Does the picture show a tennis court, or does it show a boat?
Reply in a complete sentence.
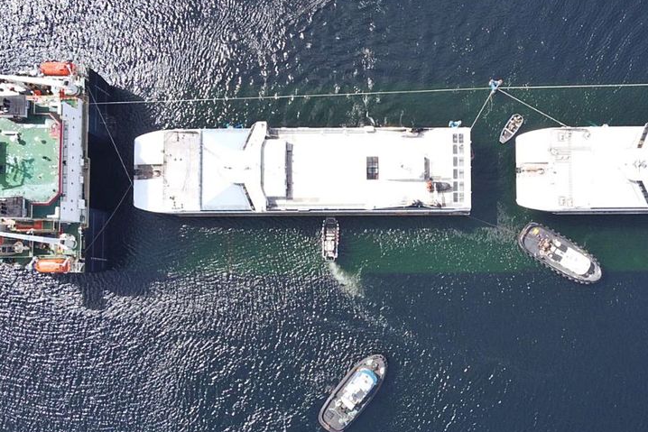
Of the two, only a boat appears.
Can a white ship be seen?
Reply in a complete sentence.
Yes, there is a white ship in the image.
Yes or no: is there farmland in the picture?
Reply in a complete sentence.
No, the picture contains no farmland.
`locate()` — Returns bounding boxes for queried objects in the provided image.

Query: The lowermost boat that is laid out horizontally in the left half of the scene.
[35,258,74,274]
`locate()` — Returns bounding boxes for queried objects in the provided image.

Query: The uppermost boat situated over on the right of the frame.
[503,113,522,143]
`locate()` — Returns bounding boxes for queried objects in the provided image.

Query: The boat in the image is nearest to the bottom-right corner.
[516,221,602,283]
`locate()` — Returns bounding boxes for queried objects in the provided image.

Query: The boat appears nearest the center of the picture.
[321,217,339,263]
